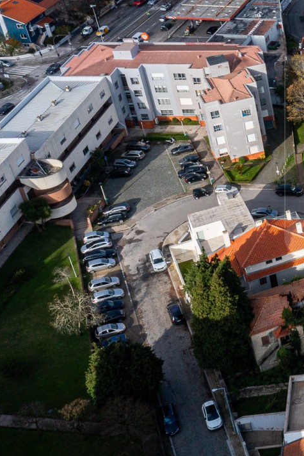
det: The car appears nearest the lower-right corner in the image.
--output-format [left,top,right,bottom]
[202,398,220,428]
